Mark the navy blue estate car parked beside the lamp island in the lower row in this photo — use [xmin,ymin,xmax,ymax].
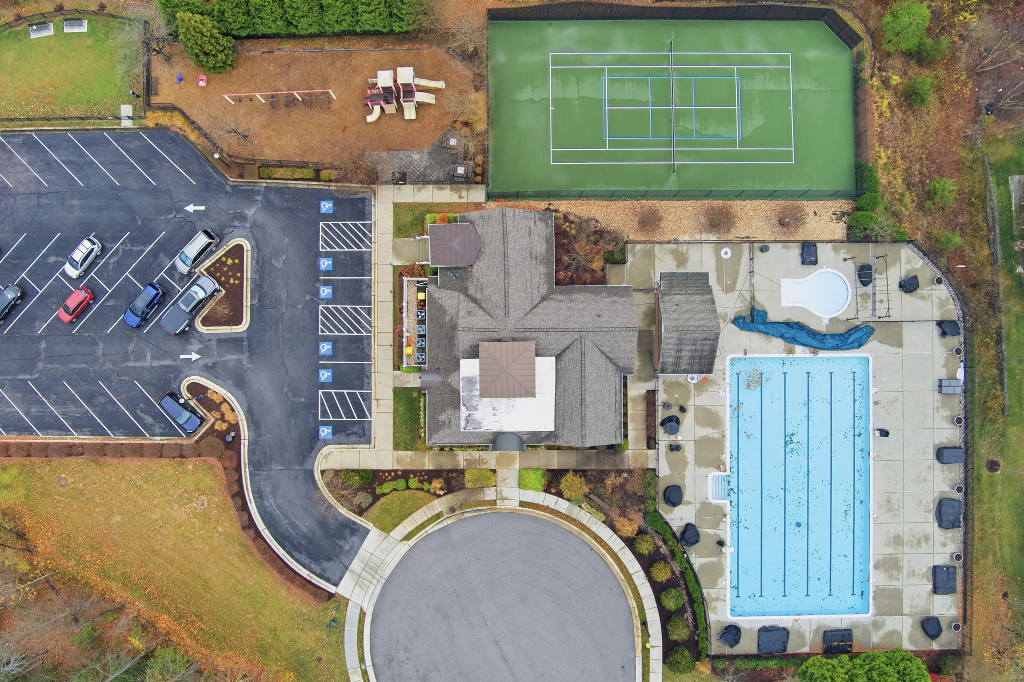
[159,389,203,434]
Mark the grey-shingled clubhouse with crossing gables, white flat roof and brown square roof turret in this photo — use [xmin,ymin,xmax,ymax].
[419,206,639,453]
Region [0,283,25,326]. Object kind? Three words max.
car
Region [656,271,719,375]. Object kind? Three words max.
building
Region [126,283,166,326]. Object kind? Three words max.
car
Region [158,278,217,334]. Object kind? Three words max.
truck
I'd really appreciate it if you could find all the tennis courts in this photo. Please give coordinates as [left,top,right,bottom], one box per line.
[488,20,857,193]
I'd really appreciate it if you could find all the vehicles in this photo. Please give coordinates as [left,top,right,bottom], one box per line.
[59,286,96,324]
[126,283,166,326]
[158,278,217,334]
[159,389,203,434]
[0,283,25,326]
[175,228,220,275]
[66,236,103,278]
